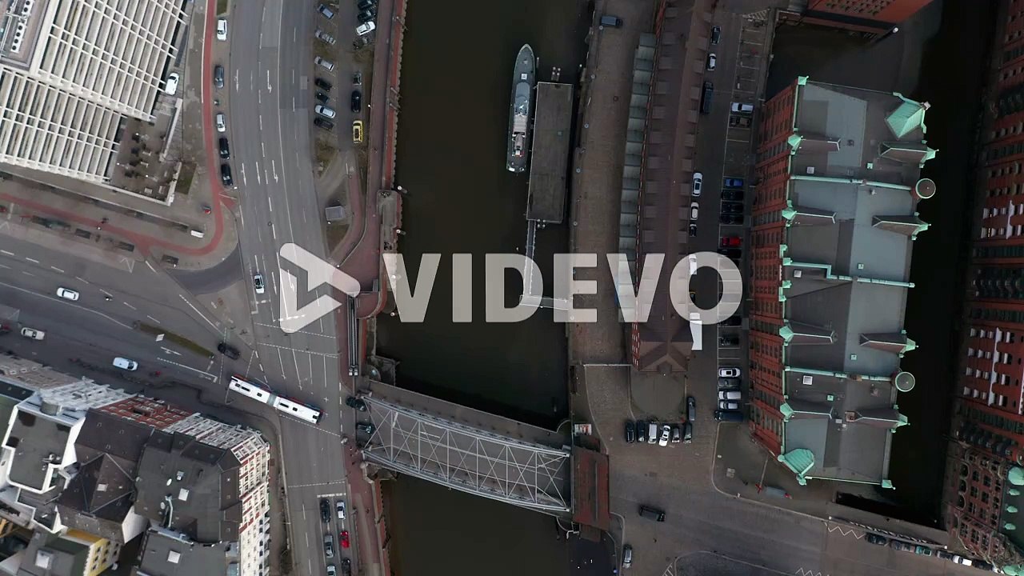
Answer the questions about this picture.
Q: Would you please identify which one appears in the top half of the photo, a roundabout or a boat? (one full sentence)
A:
What appears in the top half of the photo is a boat.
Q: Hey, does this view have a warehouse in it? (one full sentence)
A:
Yes, looking at the shot, I can spot a warehouse.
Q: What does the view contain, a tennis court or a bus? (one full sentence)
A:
It is a bus that can be seen here.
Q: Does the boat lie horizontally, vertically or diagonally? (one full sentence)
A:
In this picture, the boat lies vertically.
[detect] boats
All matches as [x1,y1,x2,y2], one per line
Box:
[506,44,534,173]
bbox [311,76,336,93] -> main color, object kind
black car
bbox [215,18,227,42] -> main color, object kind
white vehicle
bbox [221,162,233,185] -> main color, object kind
black vehicle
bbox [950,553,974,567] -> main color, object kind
white car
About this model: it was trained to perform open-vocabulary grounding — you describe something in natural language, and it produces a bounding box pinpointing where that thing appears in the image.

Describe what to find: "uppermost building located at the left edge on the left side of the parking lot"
[0,0,184,184]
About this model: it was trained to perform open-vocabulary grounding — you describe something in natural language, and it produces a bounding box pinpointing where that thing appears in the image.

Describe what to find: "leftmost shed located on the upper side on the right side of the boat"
[616,0,715,377]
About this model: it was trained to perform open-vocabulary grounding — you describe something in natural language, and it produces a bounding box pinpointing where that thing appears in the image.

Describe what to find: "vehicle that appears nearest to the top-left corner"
[165,73,178,94]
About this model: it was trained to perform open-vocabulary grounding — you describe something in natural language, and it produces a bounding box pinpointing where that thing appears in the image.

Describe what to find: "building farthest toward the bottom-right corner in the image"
[944,437,1024,576]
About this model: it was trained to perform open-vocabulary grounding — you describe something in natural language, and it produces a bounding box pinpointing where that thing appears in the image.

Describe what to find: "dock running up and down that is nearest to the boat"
[523,81,573,225]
